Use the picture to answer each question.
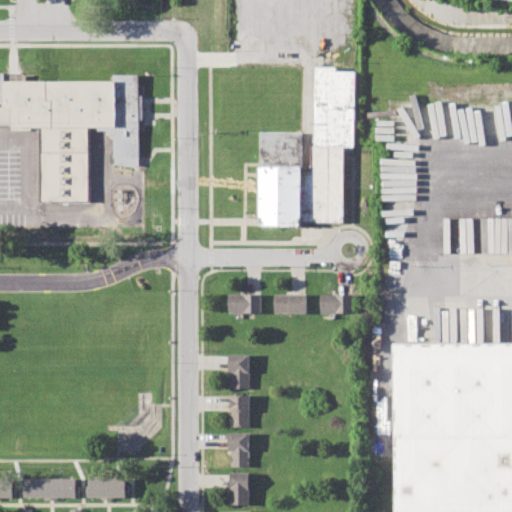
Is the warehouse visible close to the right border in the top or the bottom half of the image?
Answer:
bottom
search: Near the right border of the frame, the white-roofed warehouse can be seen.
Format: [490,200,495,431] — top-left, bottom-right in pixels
[393,344,512,512]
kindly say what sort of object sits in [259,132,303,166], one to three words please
building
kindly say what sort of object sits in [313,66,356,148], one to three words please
building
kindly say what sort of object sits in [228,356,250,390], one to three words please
house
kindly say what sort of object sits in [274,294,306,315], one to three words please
house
